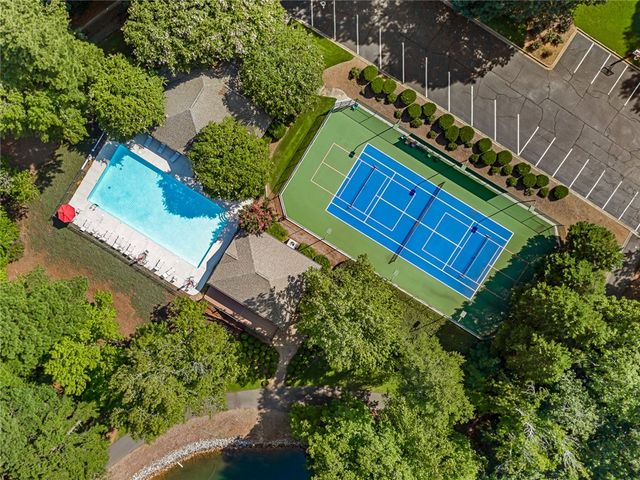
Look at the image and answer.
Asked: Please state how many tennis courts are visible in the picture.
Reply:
1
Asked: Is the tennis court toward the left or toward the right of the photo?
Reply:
right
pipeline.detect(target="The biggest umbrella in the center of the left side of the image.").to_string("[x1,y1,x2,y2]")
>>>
[59,204,78,222]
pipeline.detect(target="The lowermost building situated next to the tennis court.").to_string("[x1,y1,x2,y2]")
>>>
[205,224,318,343]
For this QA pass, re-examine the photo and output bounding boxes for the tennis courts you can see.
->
[279,99,560,340]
